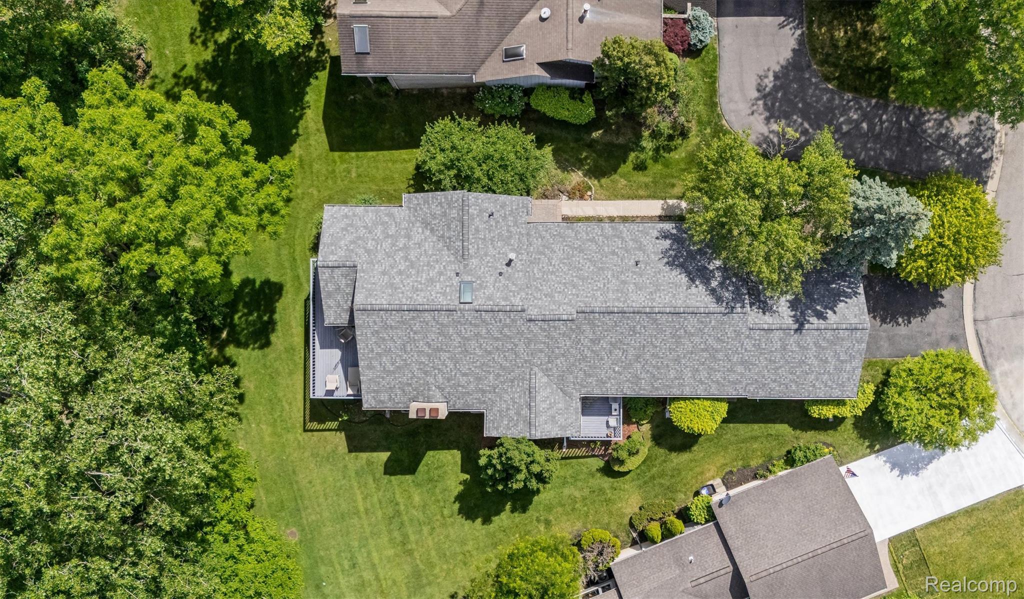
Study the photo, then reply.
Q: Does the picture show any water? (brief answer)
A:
No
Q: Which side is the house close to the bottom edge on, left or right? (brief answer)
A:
right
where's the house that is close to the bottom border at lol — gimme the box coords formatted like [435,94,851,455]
[580,453,886,599]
